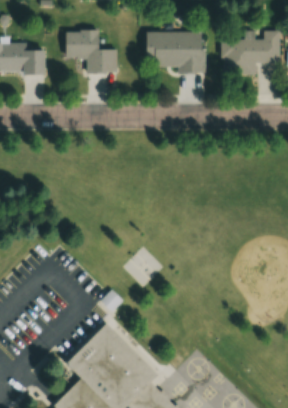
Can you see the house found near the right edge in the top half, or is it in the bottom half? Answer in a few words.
top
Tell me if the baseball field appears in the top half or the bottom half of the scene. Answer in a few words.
bottom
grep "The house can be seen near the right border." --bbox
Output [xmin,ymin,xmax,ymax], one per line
[222,31,282,76]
